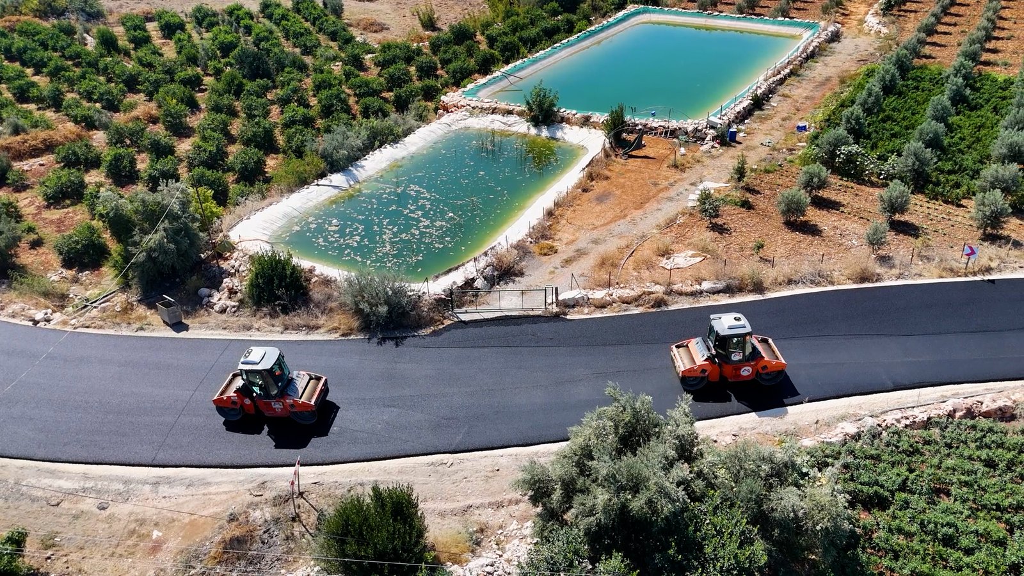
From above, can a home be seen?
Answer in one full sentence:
No, no home is visible in the scene.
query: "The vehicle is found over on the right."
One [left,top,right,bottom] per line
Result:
[665,313,787,393]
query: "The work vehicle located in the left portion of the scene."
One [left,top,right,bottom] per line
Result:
[208,346,329,422]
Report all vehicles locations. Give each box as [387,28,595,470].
[665,313,787,393]
[208,346,329,422]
